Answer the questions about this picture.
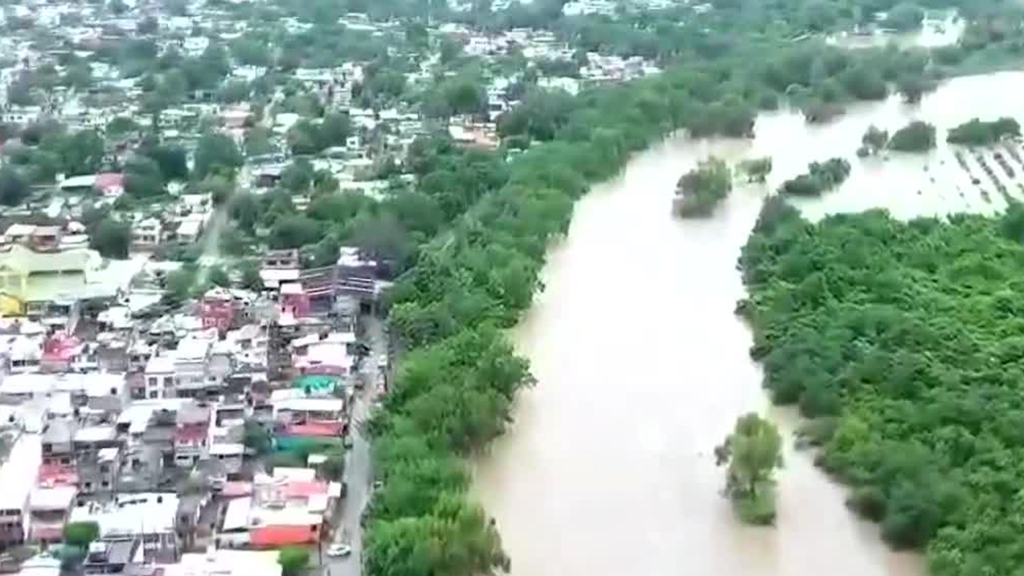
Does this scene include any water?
Yes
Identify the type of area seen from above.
residential area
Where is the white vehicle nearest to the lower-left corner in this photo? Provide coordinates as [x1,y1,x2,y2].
[325,542,351,556]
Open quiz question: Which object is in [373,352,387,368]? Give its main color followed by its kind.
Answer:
white vehicle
